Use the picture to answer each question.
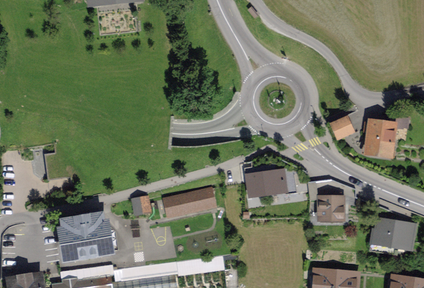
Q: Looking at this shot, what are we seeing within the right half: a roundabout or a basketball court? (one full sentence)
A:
The one visible within the right half is a roundabout.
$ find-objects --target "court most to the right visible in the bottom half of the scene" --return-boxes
[148,226,176,261]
